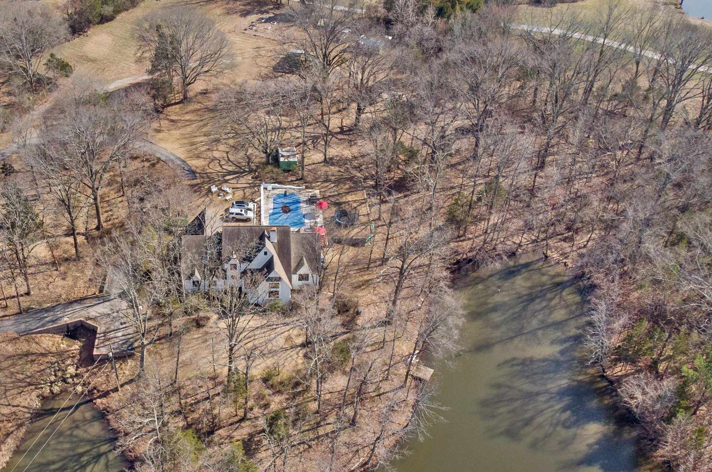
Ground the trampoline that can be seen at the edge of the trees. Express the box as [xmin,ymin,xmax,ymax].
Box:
[336,205,358,229]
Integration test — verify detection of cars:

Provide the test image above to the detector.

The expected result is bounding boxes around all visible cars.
[230,198,255,211]
[230,208,253,221]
